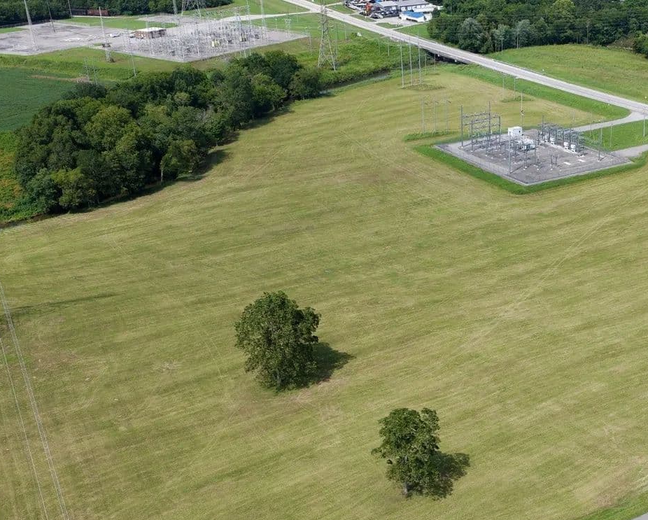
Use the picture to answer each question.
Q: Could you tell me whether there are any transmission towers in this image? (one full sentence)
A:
Yes, there is a transmission tower in the image.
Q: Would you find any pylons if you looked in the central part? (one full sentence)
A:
No, looking in the central part, there is no pylon.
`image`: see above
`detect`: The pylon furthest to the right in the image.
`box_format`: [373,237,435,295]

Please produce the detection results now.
[308,0,338,68]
